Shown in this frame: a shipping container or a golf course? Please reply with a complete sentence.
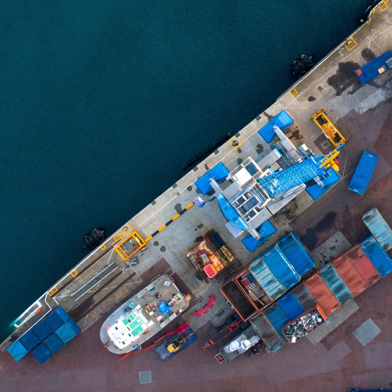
Visible in the photo is a shipping container.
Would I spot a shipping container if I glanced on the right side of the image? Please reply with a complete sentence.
Yes, on the right side of the image there is a shipping container.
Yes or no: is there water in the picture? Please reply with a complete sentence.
Yes, water can be seen from above here.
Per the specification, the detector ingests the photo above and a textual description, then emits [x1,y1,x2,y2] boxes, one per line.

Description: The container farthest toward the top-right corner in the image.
[350,148,379,193]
